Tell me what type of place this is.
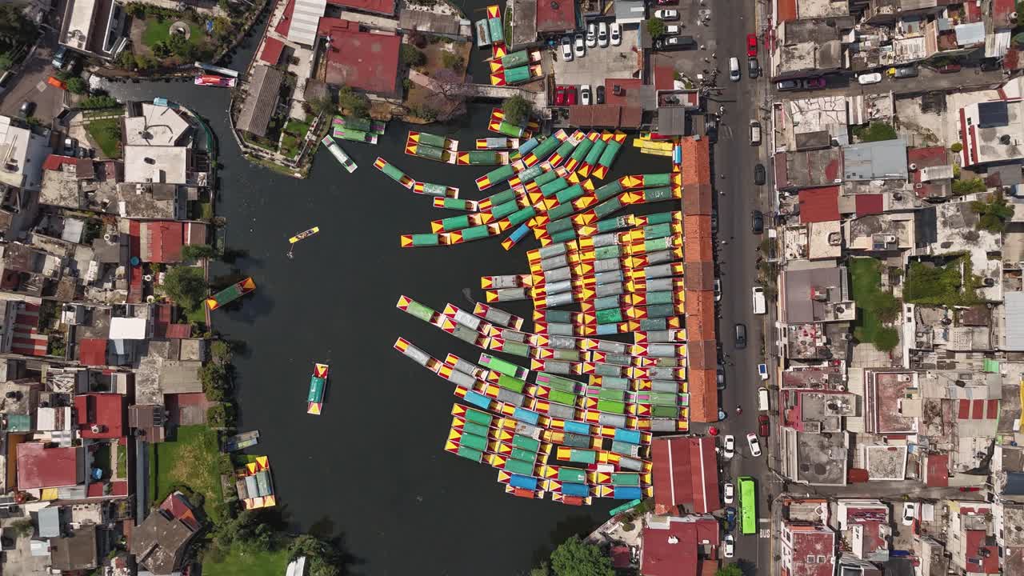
residential area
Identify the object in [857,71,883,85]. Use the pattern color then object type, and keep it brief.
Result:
white car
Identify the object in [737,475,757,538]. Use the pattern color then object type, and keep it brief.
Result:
green bus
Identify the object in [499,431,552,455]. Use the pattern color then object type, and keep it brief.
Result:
green boat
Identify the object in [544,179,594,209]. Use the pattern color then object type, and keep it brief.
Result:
green boat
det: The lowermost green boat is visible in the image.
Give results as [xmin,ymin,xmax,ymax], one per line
[609,501,638,518]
